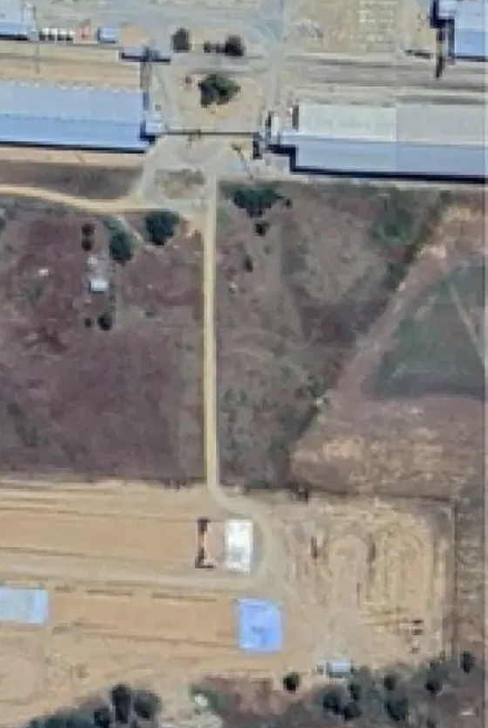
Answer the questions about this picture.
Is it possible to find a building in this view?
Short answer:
Yes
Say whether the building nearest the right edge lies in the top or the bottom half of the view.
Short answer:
top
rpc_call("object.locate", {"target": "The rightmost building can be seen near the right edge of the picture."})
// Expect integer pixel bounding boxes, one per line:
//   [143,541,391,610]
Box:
[455,0,488,57]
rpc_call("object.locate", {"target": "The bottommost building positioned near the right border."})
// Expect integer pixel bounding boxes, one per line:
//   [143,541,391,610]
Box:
[297,103,488,179]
